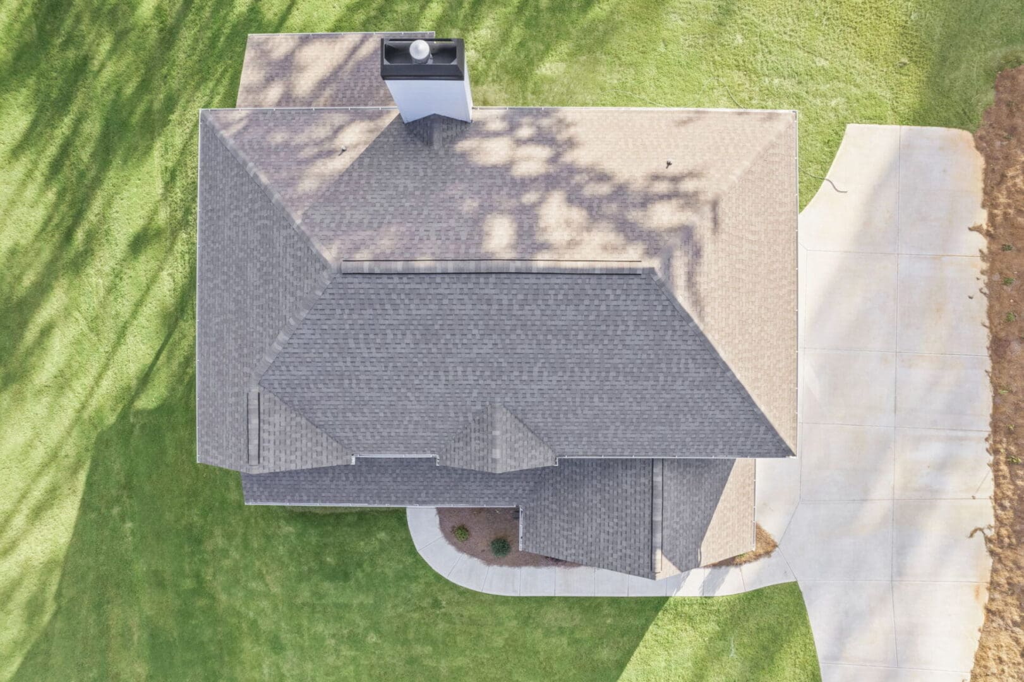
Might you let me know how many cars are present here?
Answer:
0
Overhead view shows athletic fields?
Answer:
No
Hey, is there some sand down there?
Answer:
No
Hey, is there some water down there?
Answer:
No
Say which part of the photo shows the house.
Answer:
center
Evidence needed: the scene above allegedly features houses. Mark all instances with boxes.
[197,32,799,580]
